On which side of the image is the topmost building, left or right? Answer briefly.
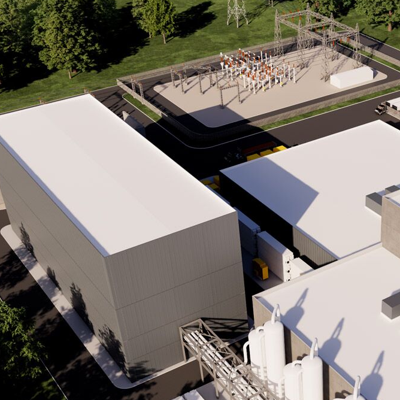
right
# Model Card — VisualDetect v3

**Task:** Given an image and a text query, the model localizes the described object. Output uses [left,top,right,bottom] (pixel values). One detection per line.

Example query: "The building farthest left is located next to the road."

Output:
[0,94,248,382]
